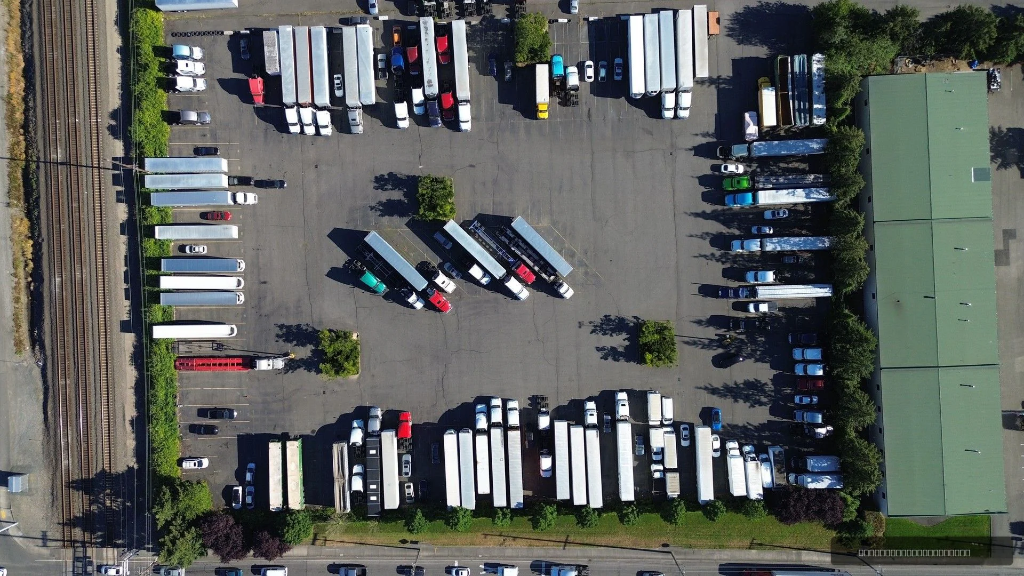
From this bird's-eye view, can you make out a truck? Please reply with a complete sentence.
Yes, a truck appears in the view.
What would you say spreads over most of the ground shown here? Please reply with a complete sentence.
The scene is dominated by paved ground.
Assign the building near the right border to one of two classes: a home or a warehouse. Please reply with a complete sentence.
The building near the right border is a warehouse.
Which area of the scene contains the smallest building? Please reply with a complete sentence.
The smallest building is in the bottom left part of the image.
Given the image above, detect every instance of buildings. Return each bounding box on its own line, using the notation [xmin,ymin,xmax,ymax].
[2,475,27,497]
[857,71,1009,518]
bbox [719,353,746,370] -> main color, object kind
black car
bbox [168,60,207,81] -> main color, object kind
white truck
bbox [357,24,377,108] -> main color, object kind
white trailer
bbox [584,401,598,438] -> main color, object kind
white vehicle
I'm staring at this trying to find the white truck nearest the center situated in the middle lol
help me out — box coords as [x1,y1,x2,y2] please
[492,274,529,302]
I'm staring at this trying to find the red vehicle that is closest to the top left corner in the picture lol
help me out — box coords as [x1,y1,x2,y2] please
[249,69,268,106]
